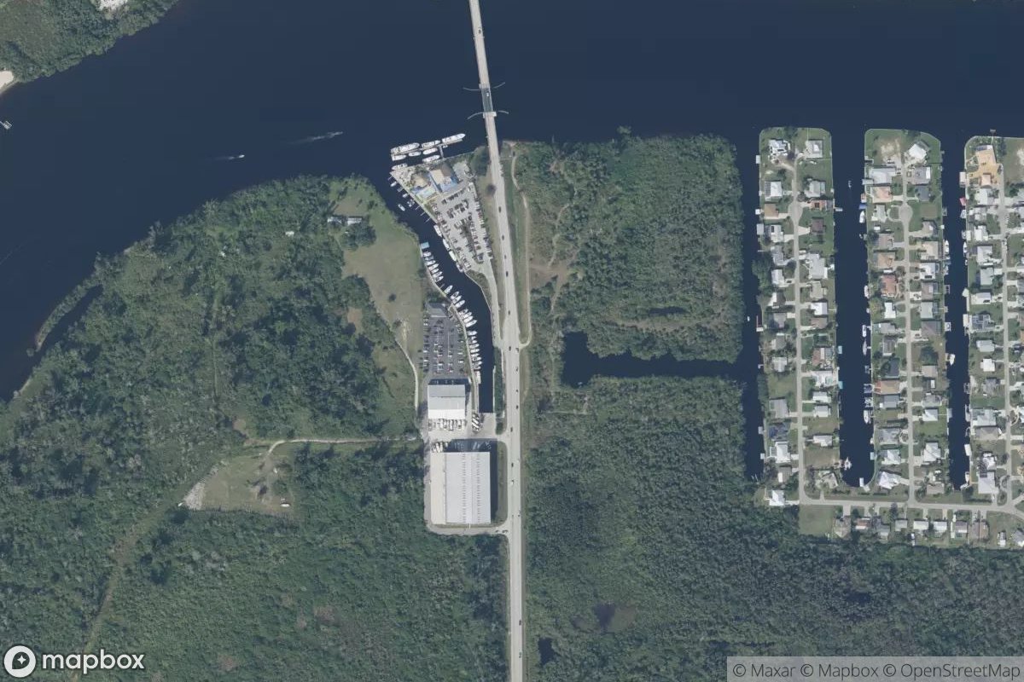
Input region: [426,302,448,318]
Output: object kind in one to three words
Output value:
building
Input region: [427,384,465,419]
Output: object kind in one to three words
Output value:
building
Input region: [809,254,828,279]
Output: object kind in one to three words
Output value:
house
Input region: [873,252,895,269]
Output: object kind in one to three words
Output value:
house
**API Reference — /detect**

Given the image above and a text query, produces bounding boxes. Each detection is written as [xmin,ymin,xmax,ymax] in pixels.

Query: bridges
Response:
[463,0,508,205]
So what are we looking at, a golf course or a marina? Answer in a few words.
marina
